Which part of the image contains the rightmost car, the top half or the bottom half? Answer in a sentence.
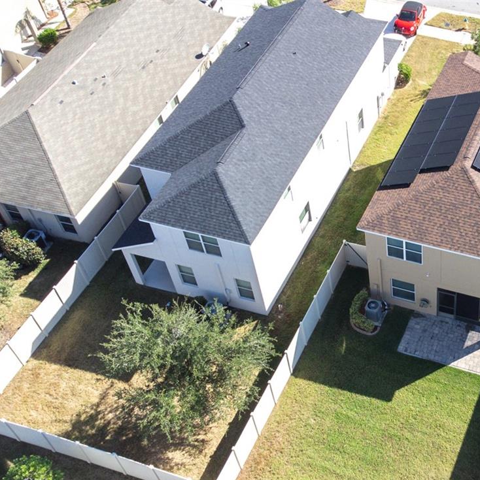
The top half of the photo is where the rightmost car is.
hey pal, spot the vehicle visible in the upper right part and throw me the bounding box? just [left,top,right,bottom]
[395,0,431,34]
